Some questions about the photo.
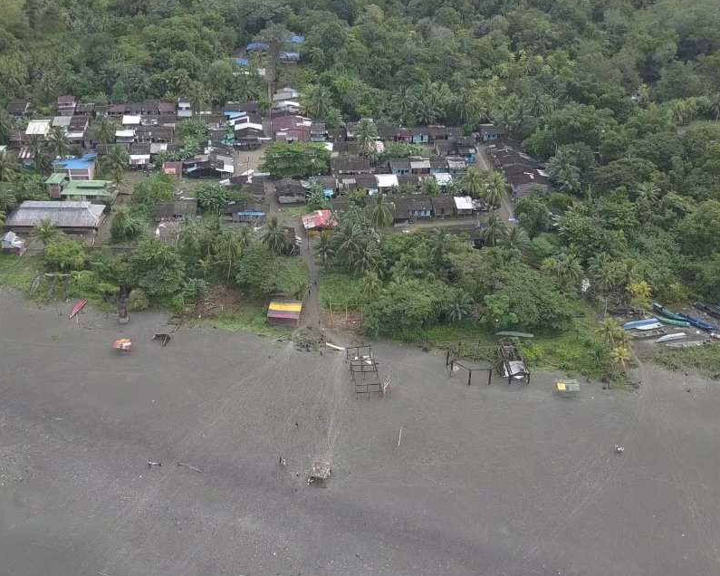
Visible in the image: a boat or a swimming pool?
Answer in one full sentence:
The one in the frame is a boat.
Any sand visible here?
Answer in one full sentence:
Yes, sand shows up in the scene.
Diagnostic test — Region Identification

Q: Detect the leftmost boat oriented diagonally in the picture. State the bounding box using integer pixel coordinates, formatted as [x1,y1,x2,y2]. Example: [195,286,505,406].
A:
[70,299,88,319]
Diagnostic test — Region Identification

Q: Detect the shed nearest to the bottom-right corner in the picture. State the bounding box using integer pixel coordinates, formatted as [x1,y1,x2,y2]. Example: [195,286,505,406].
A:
[498,341,530,386]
